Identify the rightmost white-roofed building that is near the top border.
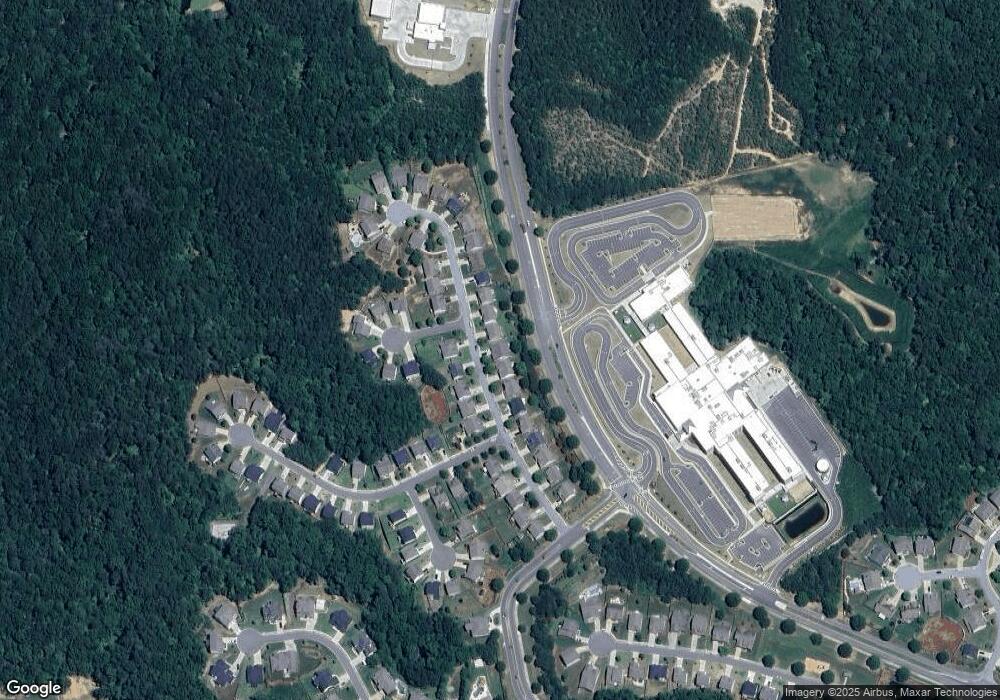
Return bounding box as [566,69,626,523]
[414,1,446,50]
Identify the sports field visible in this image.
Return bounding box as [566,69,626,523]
[711,195,798,240]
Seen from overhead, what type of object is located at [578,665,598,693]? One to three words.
house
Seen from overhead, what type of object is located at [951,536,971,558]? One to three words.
house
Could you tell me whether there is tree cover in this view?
Yes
